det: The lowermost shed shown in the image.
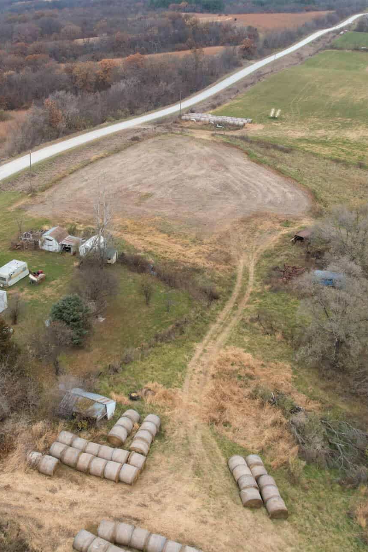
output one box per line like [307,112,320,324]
[67,387,121,423]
